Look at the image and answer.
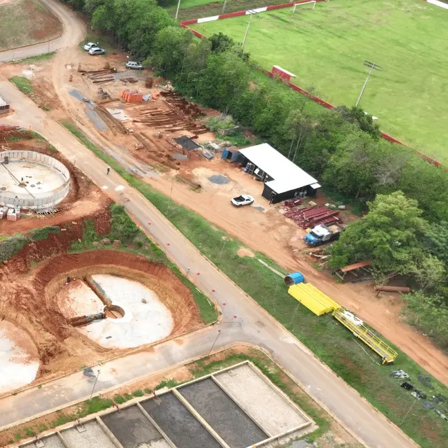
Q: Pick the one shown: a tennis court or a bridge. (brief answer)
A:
bridge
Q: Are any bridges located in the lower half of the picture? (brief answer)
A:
Yes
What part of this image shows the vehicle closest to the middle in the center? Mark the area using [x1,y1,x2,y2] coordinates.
[231,194,254,206]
